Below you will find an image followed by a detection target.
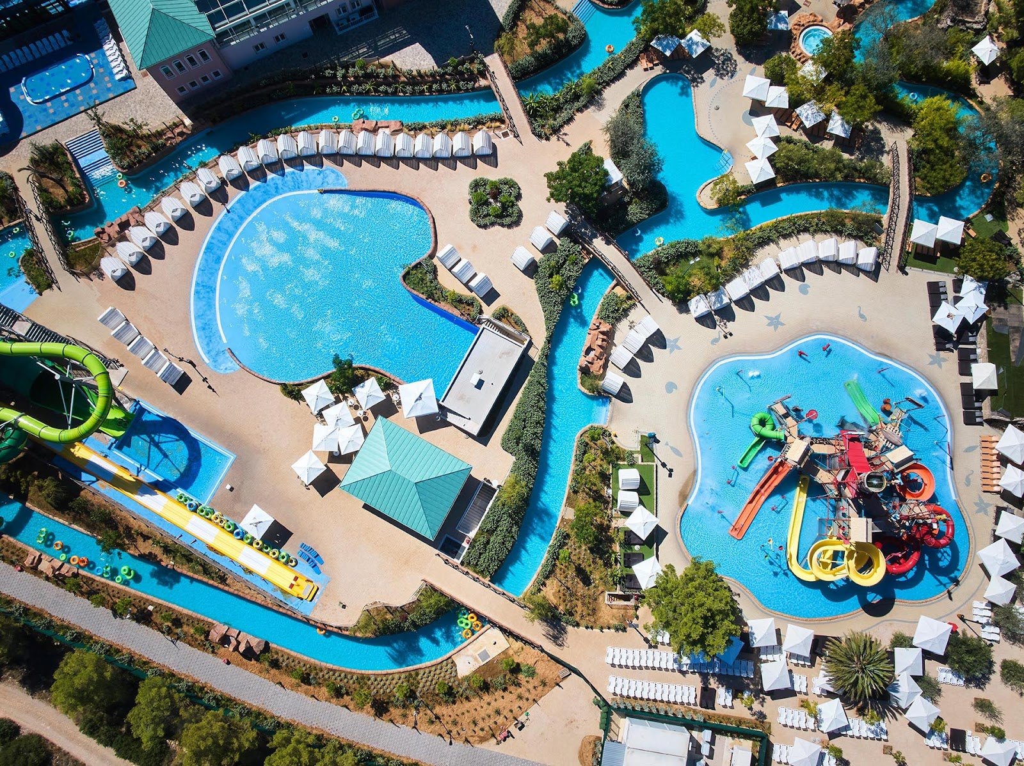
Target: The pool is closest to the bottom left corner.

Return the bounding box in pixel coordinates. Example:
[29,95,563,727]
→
[117,404,231,498]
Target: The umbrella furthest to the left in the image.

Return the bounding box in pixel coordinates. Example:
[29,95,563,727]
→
[234,505,274,545]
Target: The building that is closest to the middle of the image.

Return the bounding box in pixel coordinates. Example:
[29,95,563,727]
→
[438,326,525,436]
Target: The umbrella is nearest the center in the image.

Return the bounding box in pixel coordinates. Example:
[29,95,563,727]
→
[398,377,441,420]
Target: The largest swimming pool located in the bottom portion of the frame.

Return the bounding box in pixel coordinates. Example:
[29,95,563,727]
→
[679,337,971,619]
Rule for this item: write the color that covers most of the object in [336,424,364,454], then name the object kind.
white umbrella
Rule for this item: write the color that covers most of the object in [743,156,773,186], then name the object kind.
white umbrella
